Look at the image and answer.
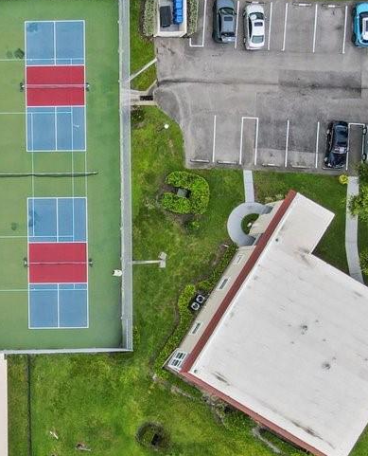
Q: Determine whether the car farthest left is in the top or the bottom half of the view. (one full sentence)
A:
It is in the top half that the car farthest left appears.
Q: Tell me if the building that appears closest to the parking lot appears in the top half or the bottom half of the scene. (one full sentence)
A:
You can find the building that appears closest to the parking lot in the bottom half.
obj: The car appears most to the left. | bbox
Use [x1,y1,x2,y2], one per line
[212,0,236,43]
